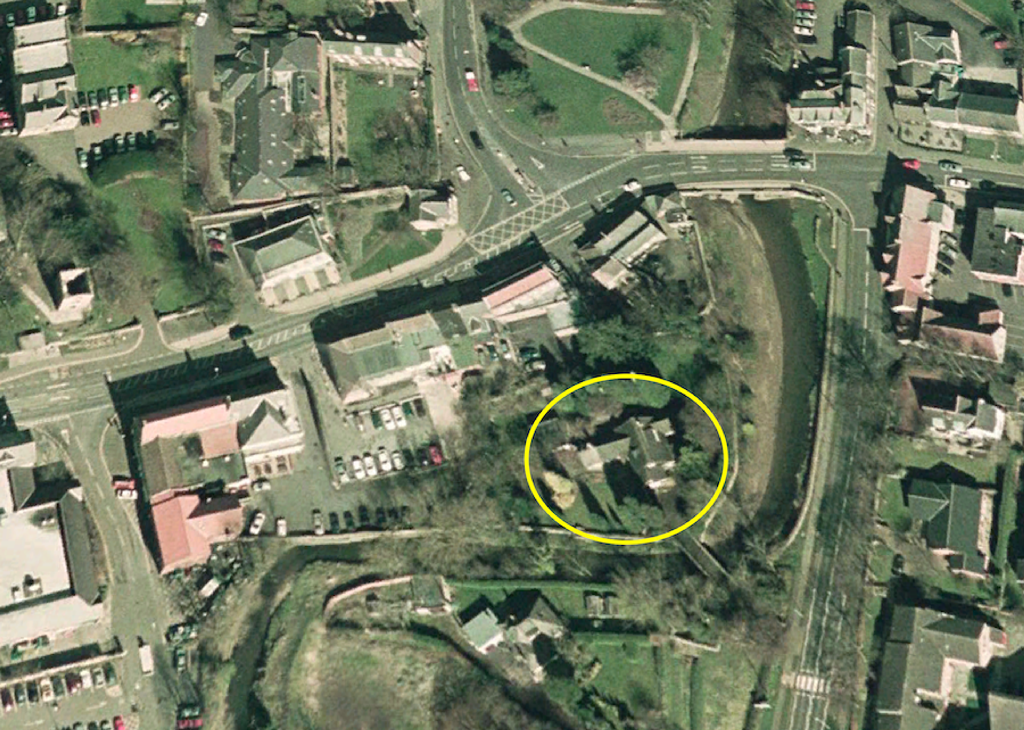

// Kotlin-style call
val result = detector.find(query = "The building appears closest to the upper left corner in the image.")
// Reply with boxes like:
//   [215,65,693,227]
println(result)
[12,11,82,133]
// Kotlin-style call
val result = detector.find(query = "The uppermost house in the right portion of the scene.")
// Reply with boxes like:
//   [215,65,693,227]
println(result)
[893,18,961,92]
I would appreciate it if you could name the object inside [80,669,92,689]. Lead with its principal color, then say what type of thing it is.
white vehicle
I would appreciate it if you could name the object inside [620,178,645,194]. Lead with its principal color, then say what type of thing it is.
white vehicle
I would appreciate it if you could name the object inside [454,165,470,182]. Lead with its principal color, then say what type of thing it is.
white car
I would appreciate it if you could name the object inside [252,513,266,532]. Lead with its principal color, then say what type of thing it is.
white car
